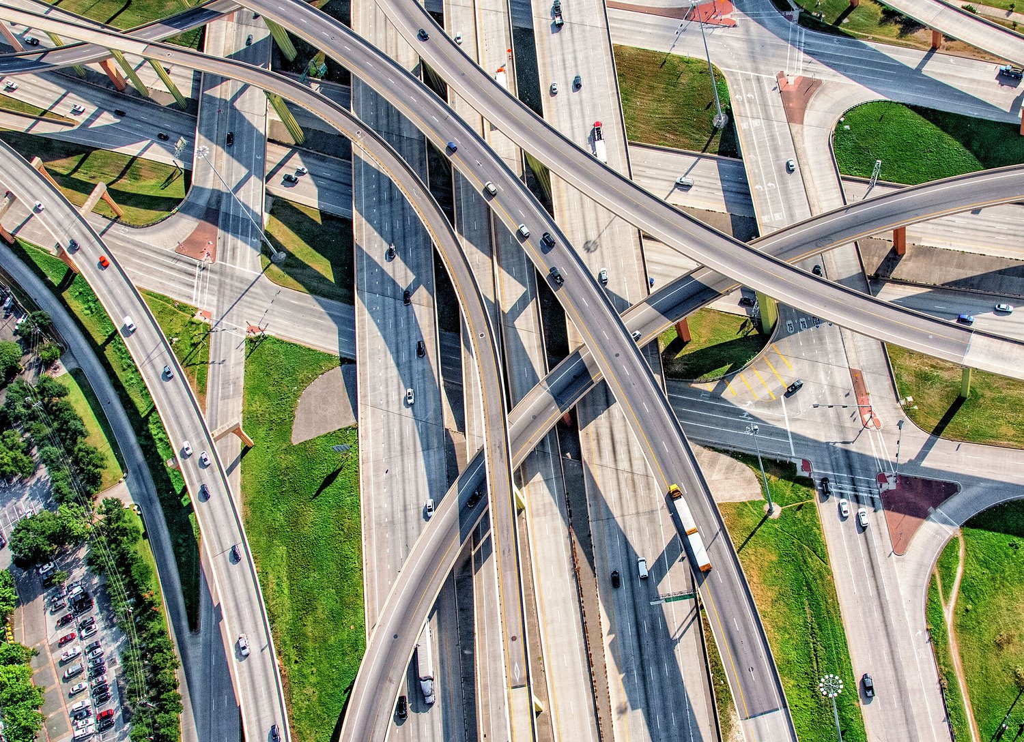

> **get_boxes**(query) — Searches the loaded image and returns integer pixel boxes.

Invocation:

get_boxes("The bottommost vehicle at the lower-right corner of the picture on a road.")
[861,672,875,699]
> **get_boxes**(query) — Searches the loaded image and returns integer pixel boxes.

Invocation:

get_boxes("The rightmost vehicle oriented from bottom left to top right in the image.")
[781,376,804,394]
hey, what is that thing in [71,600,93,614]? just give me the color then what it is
black vehicle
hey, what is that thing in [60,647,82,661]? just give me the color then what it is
white vehicle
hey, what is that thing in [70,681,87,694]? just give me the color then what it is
white vehicle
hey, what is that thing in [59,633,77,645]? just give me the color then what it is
red vehicle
